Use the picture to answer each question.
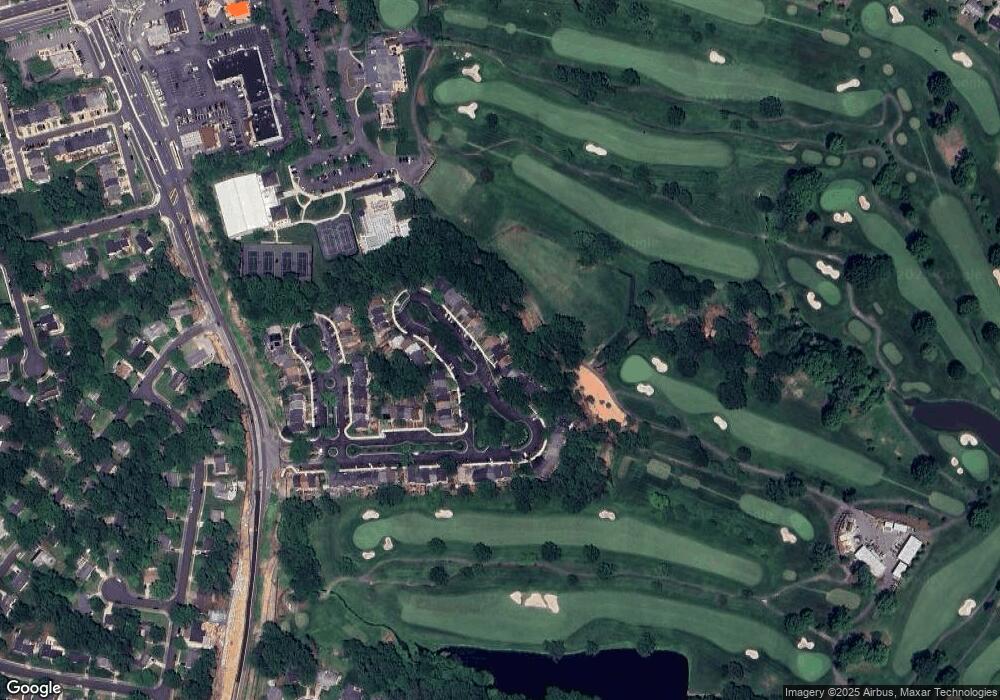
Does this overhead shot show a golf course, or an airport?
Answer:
golf course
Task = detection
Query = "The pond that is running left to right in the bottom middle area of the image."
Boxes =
[434,644,688,700]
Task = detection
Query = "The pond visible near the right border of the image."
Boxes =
[905,398,1000,456]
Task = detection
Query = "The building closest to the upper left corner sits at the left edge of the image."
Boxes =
[49,51,80,69]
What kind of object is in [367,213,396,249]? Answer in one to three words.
swimming pool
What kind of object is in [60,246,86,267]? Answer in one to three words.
house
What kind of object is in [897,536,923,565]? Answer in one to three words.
shed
